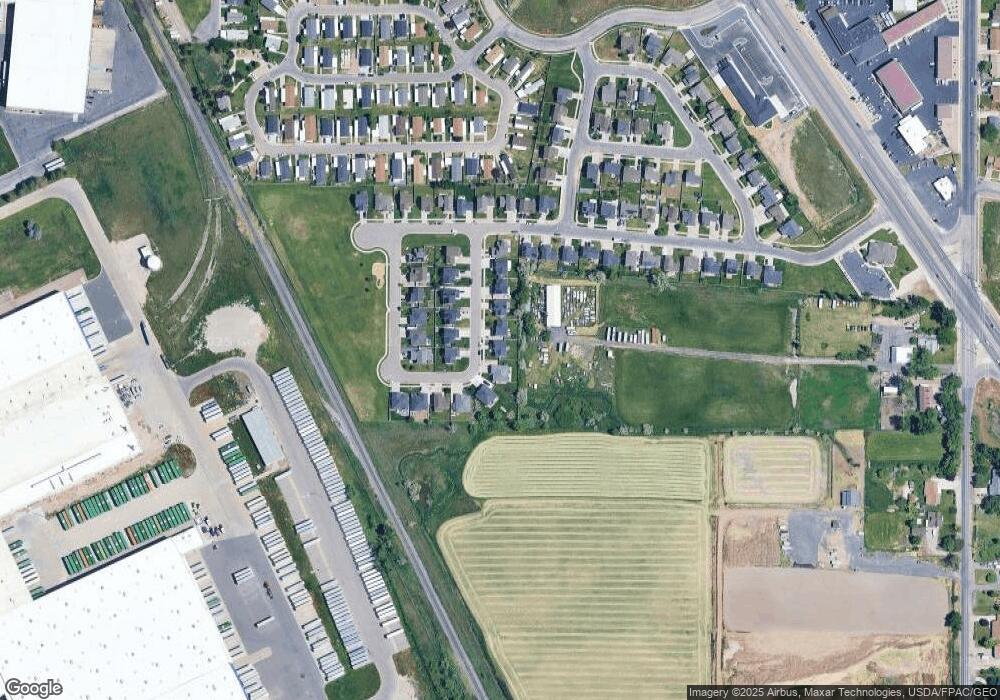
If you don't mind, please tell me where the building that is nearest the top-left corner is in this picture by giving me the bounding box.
[3,0,94,112]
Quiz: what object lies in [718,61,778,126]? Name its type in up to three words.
building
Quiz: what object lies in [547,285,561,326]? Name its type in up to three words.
shed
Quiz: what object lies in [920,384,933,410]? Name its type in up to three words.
house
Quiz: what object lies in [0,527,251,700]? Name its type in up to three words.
warehouse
